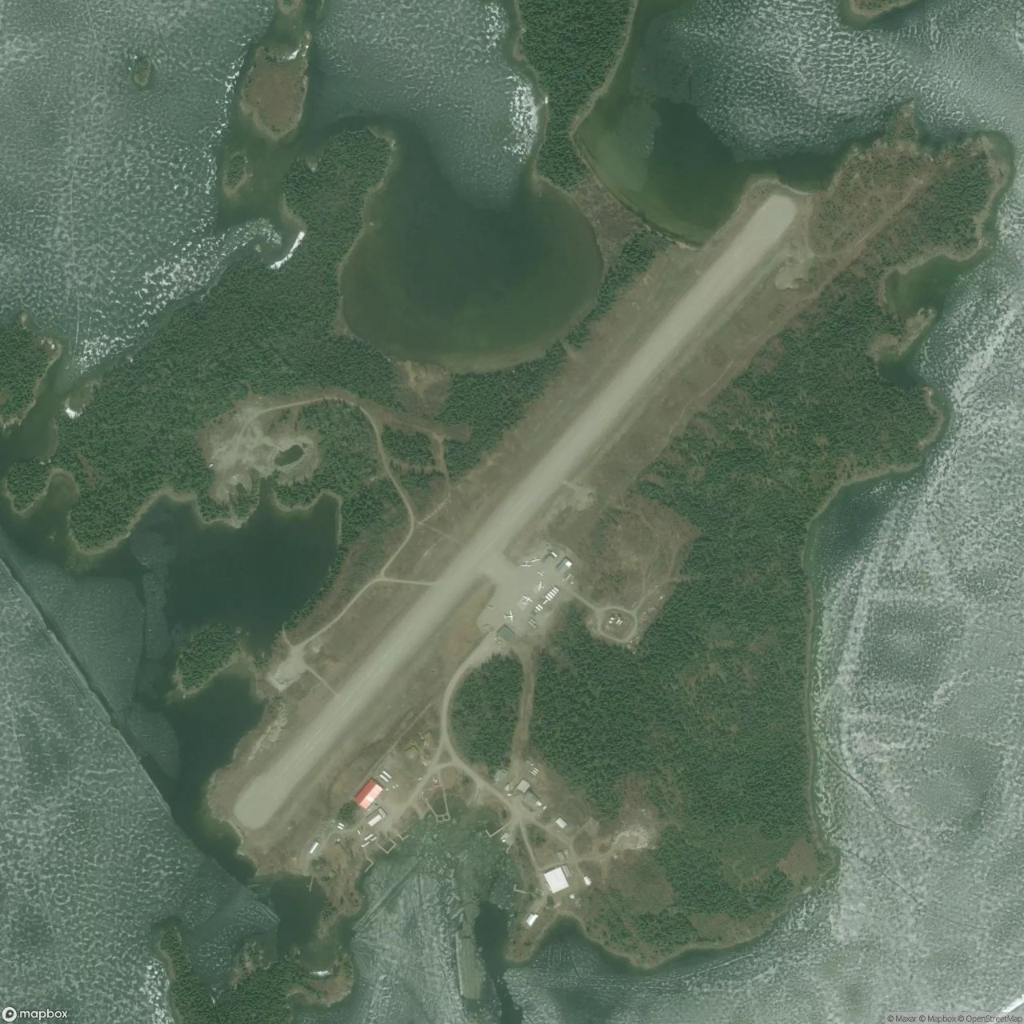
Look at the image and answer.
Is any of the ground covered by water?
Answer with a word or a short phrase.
Yes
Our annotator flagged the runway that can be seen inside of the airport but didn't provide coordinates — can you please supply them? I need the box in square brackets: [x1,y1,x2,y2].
[232,194,798,829]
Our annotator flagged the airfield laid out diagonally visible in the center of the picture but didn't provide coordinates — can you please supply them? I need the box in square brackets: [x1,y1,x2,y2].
[232,194,798,829]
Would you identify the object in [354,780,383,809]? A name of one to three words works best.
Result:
building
